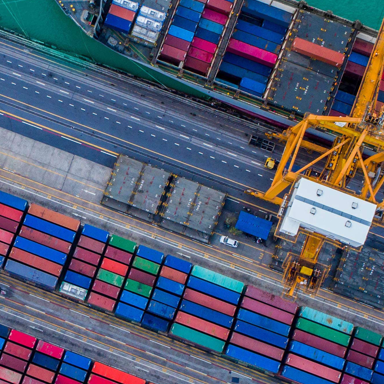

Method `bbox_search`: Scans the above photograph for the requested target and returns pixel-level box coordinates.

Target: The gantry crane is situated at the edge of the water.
[241,20,384,311]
